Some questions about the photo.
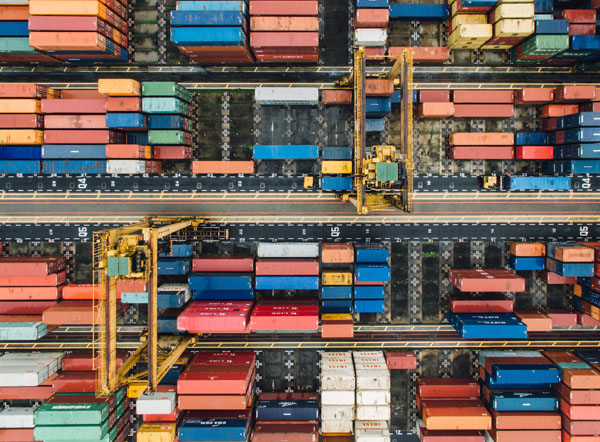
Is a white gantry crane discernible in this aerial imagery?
No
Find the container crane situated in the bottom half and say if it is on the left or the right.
left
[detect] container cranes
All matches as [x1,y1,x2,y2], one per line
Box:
[338,46,415,213]
[91,216,208,389]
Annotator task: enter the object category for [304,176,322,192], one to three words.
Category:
vehicle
